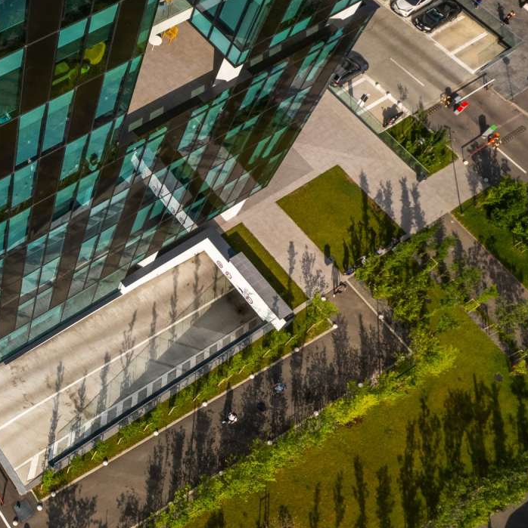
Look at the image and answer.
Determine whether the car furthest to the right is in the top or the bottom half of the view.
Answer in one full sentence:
The top half of the photo is where the car furthest to the right is.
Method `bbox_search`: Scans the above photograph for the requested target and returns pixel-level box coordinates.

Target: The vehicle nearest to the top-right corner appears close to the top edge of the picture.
[416,0,459,32]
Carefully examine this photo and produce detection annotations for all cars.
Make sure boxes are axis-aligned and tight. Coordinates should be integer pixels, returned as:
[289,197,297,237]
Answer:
[416,0,459,32]
[393,0,431,17]
[331,53,369,87]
